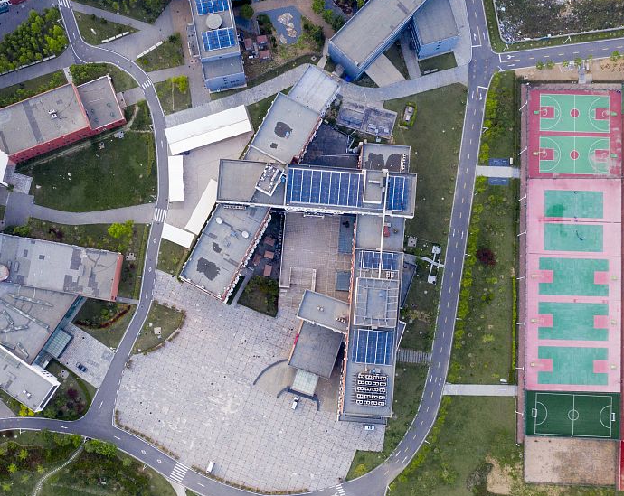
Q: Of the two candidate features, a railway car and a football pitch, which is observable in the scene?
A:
football pitch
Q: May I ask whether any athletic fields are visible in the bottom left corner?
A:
No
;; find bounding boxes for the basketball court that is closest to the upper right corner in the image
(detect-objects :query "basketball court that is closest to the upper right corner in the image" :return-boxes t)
[540,93,610,131]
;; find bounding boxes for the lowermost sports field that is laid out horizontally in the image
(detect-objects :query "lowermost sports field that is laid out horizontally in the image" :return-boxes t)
[524,439,619,488]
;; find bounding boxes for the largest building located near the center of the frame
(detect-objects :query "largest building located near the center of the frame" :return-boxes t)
[179,64,417,424]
